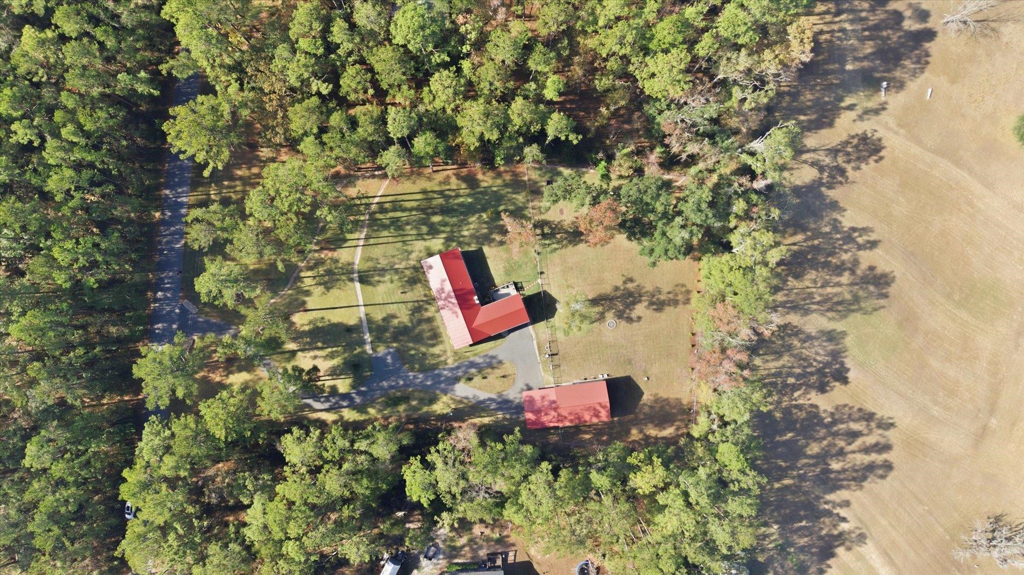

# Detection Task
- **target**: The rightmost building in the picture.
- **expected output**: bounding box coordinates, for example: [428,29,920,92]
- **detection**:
[522,380,611,430]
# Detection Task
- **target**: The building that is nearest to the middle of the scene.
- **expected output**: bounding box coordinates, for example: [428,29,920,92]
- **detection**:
[421,248,530,349]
